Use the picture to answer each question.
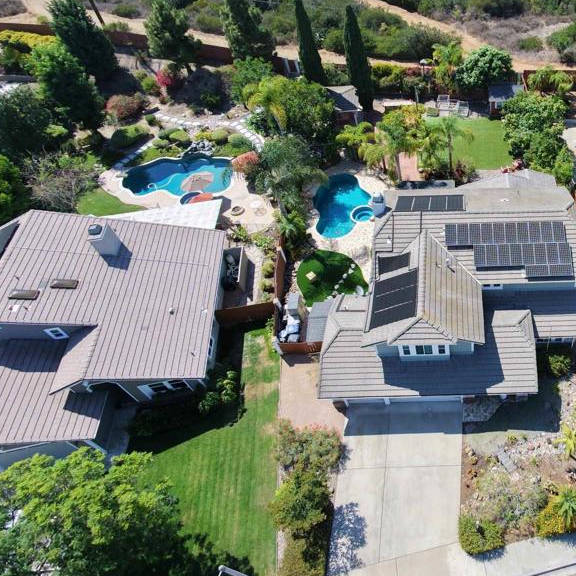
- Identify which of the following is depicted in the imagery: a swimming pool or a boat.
swimming pool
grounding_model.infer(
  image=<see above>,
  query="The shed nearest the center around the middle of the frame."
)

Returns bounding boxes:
[285,291,308,322]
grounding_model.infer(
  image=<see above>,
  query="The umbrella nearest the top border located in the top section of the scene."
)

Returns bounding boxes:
[179,169,220,201]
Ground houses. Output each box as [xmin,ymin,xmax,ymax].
[318,169,576,410]
[0,208,228,469]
